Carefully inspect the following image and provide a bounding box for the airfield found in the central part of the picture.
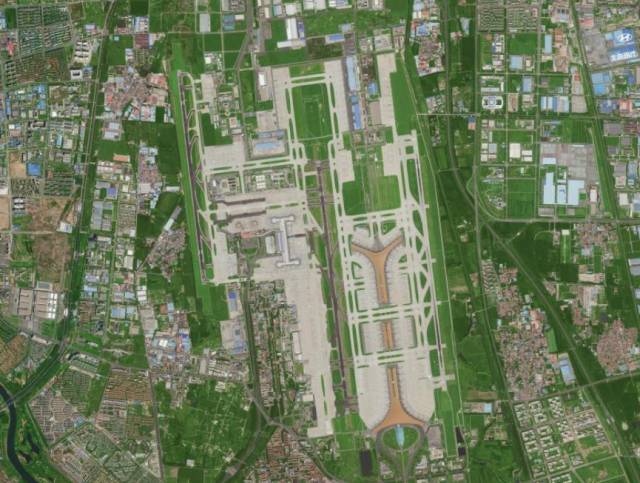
[169,42,467,483]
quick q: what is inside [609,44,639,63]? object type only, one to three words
building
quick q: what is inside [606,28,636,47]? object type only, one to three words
building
